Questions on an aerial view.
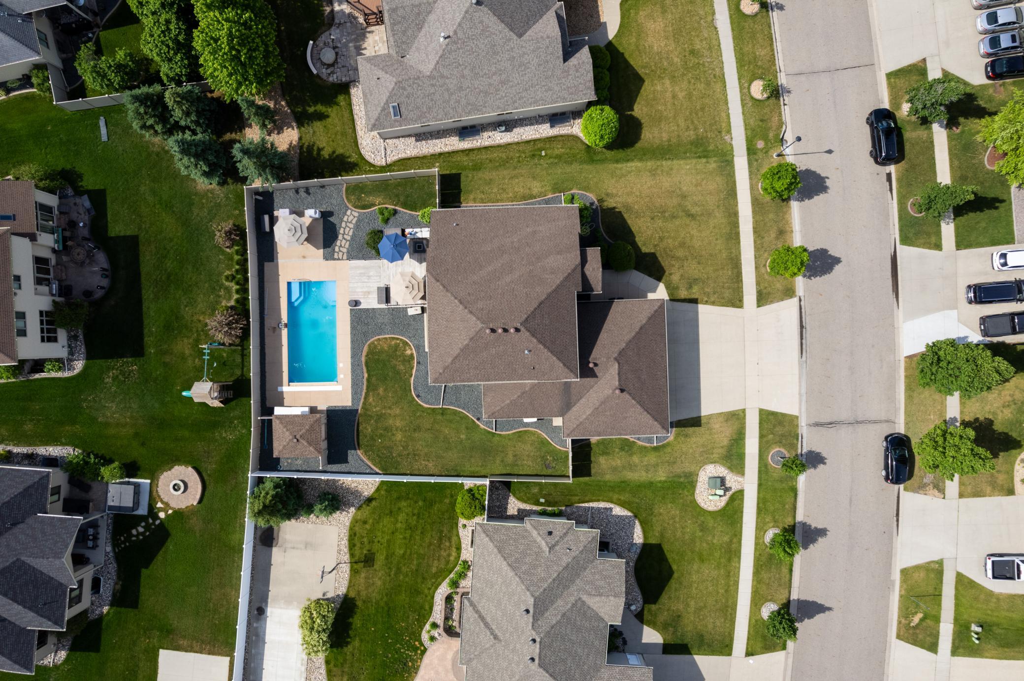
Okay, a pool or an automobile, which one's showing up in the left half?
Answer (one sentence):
The feature located in the left half is a pool.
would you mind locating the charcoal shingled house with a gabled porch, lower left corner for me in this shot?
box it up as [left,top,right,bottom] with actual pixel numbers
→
[0,465,107,681]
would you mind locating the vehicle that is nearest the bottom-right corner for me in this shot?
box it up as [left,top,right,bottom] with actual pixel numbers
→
[983,552,1024,580]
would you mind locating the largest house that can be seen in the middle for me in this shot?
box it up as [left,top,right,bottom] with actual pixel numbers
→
[424,204,670,439]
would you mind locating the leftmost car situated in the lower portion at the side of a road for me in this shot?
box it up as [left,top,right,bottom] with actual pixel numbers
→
[882,434,912,486]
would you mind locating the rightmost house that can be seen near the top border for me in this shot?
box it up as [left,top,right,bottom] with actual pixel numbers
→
[357,0,597,140]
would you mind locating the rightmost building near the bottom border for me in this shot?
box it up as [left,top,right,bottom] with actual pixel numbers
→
[459,511,653,681]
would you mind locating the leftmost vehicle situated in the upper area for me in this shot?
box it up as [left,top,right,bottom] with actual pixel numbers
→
[865,106,901,167]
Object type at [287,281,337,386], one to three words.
swimming pool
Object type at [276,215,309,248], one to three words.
umbrella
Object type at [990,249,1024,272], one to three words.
car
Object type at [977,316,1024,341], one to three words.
truck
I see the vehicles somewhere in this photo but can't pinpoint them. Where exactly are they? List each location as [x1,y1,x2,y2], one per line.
[990,249,1024,272]
[983,55,1024,82]
[964,279,1024,307]
[983,552,1024,580]
[977,26,1024,59]
[882,434,912,486]
[976,3,1024,35]
[865,106,901,167]
[970,0,1024,10]
[977,316,1024,341]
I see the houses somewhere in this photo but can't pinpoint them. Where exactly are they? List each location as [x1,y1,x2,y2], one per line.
[0,180,69,365]
[0,465,107,681]
[459,511,653,681]
[424,204,670,439]
[357,0,597,140]
[0,0,93,78]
